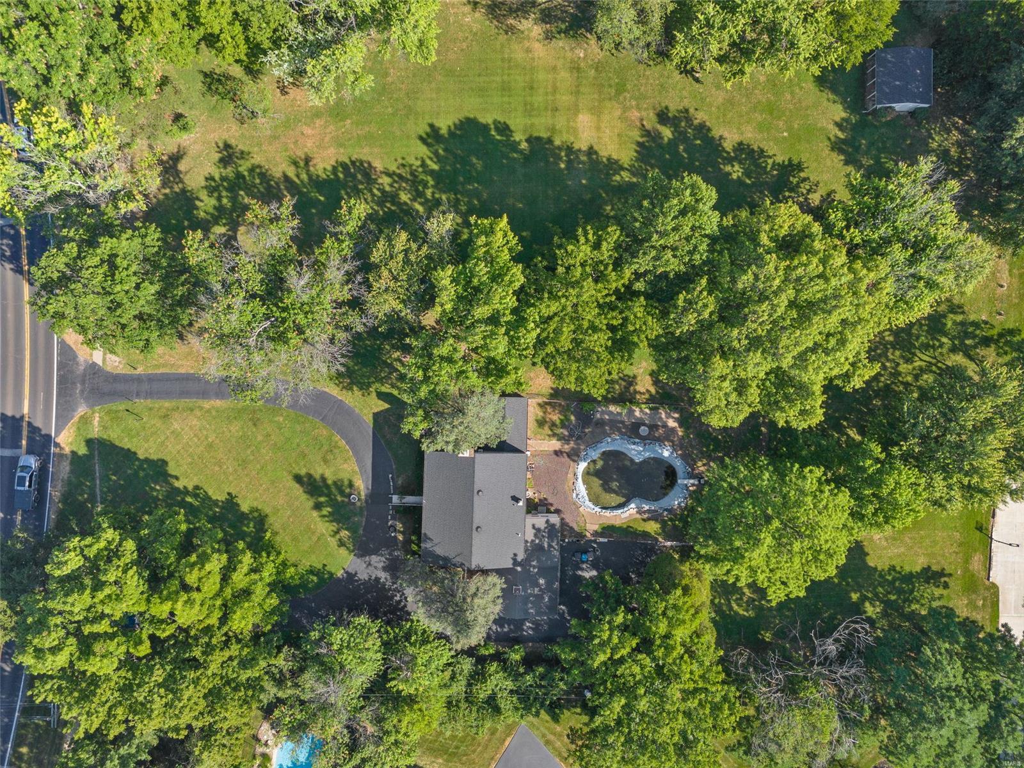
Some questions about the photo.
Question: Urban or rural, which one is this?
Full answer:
The area is rural.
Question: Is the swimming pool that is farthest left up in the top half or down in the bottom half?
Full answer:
The swimming pool that is farthest left sits in the bottom half of the picture.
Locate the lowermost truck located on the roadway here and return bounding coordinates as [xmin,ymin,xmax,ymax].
[13,456,42,511]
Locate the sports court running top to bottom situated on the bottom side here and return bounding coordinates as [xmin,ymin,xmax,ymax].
[992,494,1024,667]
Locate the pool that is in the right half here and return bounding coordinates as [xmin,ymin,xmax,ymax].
[573,434,691,516]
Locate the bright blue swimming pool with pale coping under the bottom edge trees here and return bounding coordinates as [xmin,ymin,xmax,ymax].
[271,729,329,768]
